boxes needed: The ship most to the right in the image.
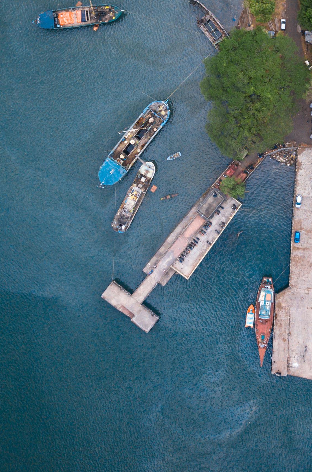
[254,276,276,366]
